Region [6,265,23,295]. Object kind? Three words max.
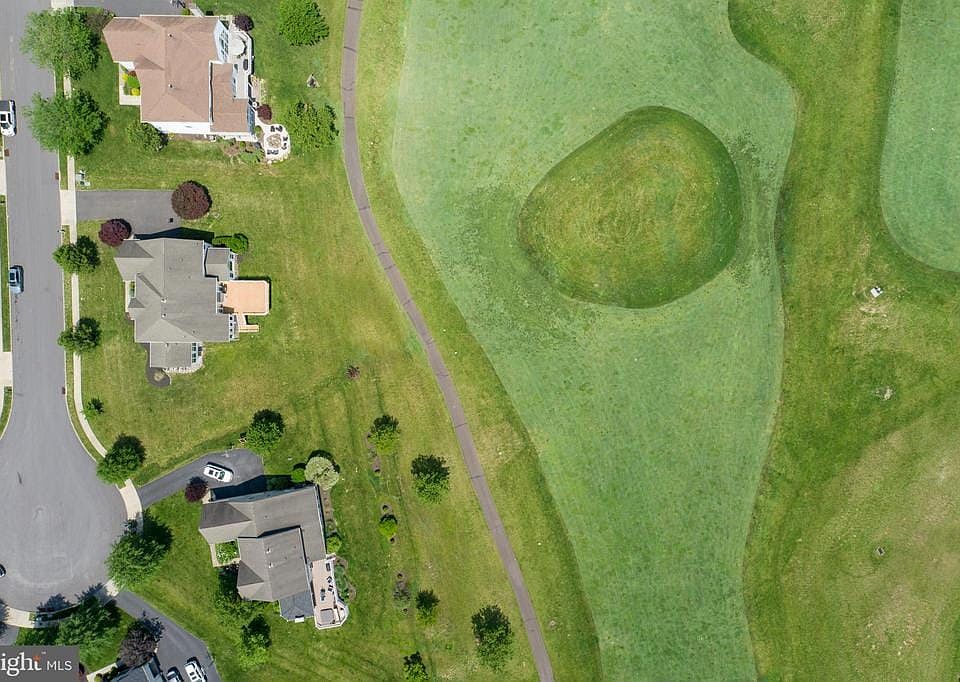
car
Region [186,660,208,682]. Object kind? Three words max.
car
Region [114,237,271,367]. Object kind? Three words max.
house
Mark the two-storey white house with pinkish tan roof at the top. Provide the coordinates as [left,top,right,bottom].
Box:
[102,15,261,136]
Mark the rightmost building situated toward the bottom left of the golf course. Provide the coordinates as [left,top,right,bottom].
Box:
[199,484,348,633]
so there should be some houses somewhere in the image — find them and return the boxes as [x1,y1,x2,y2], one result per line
[114,237,271,367]
[199,484,348,633]
[102,15,261,136]
[109,658,164,682]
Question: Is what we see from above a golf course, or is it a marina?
golf course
